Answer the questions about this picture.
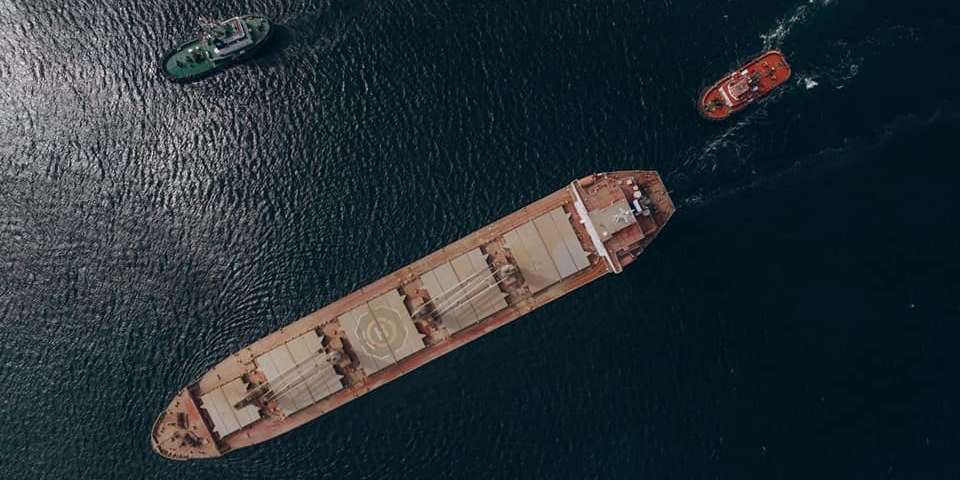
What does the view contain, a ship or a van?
ship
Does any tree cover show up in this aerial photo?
No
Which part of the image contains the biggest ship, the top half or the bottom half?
bottom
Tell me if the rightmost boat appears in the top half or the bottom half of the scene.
top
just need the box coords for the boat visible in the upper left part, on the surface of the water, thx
[160,16,271,79]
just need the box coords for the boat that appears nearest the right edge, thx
[700,53,791,114]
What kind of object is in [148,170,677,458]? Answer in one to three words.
ship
